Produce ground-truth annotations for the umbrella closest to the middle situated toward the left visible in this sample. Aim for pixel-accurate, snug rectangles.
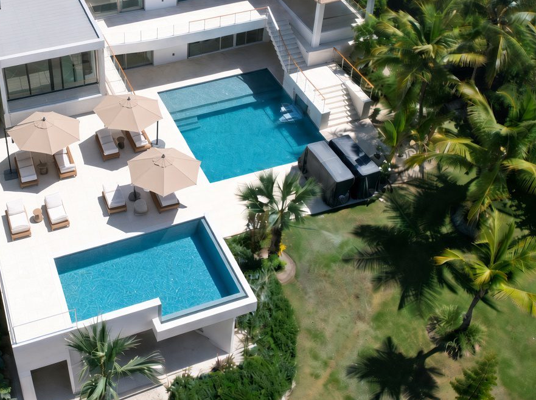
[122,142,205,203]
